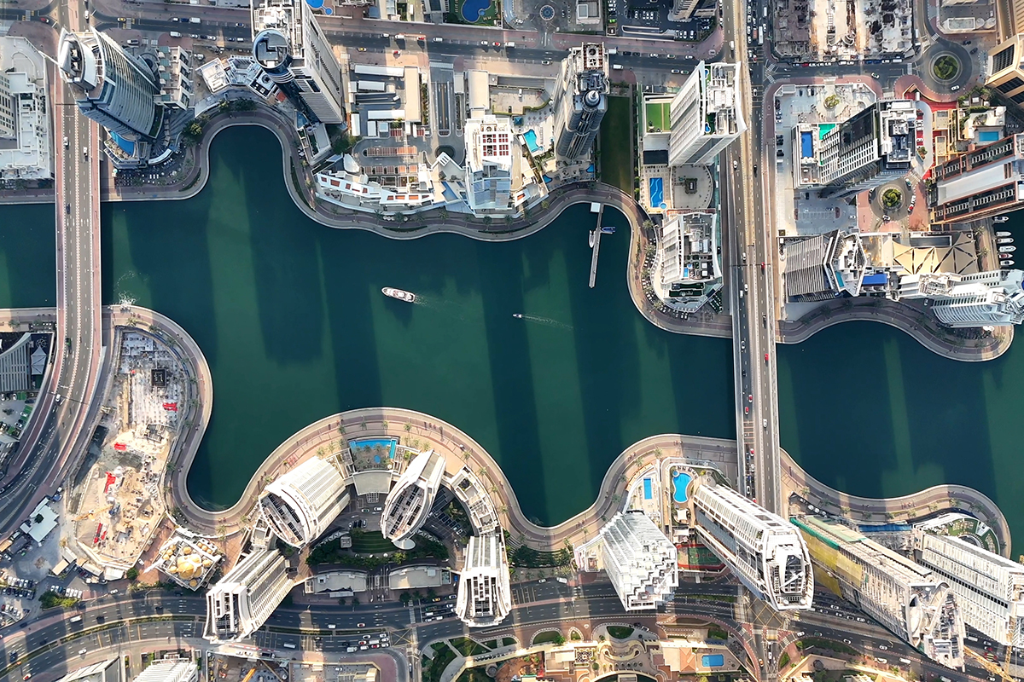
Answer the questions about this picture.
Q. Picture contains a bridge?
Yes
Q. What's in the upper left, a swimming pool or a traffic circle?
swimming pool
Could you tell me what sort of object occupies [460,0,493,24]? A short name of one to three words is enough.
swimming pool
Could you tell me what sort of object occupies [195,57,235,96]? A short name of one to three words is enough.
house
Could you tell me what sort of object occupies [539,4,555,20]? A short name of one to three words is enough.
fountain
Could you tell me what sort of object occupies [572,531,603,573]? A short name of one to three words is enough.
building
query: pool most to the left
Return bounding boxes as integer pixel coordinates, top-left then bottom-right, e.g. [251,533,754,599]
[108,127,137,155]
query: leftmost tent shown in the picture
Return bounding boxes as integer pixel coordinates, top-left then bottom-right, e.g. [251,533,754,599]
[32,346,50,374]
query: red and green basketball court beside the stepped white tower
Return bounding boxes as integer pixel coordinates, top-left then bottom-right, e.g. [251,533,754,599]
[678,544,725,570]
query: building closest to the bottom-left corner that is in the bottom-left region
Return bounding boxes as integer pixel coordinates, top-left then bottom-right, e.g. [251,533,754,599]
[55,649,122,682]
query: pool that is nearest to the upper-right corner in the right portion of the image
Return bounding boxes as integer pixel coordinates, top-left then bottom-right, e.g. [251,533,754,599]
[799,128,816,160]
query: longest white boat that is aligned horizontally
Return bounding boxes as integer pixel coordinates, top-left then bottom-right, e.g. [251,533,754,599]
[382,288,417,303]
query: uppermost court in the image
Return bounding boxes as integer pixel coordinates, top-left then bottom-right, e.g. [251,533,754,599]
[642,100,673,137]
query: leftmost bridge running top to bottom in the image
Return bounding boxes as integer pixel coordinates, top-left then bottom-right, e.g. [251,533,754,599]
[0,59,104,542]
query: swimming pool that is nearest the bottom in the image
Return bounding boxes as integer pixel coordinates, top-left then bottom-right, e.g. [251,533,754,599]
[702,654,724,668]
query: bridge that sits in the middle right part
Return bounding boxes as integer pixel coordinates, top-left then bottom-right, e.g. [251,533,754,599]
[724,127,788,591]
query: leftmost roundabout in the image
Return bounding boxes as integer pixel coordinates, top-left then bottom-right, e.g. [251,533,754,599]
[871,177,913,219]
